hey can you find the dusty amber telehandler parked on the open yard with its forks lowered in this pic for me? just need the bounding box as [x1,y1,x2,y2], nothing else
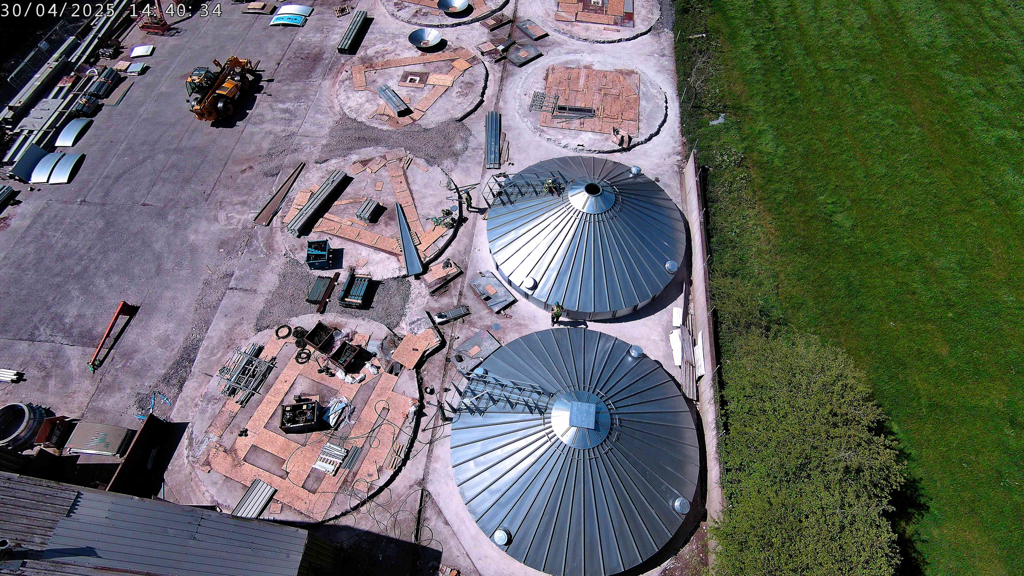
[182,56,269,124]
